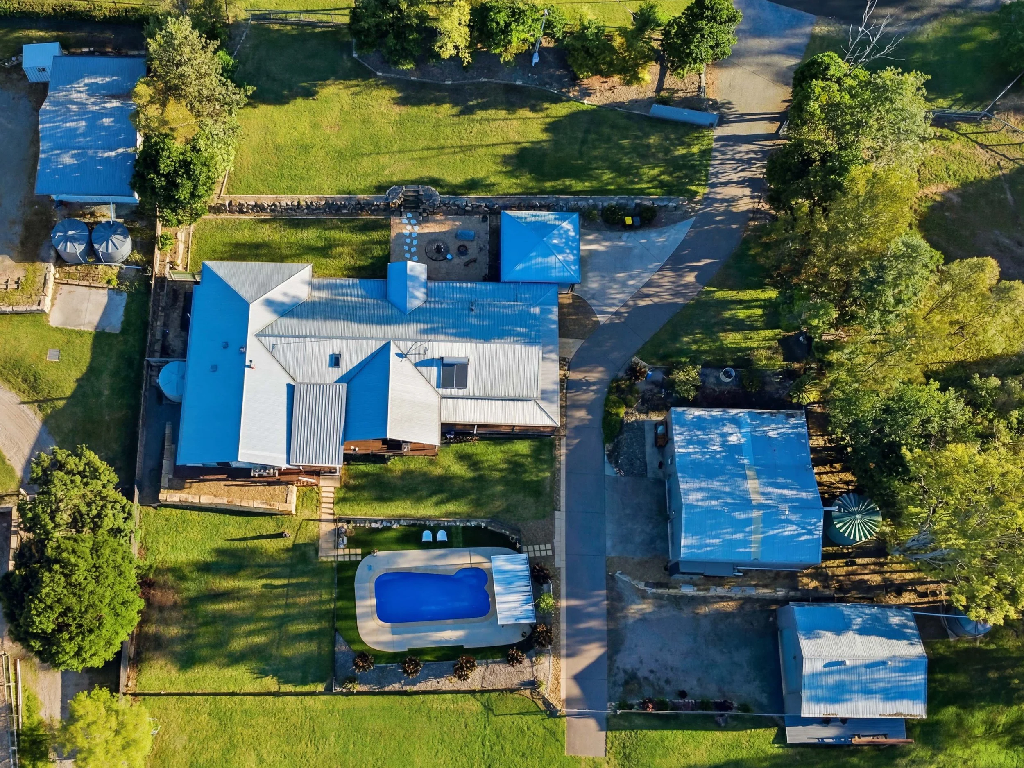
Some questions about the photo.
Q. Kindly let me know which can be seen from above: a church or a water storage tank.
water storage tank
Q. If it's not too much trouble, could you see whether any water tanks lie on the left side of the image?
Yes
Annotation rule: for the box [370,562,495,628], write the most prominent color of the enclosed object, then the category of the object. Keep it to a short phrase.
blue swimming pool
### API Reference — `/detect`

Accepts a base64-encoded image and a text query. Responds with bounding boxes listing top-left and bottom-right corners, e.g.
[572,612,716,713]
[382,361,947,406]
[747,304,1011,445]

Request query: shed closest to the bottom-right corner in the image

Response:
[778,602,975,744]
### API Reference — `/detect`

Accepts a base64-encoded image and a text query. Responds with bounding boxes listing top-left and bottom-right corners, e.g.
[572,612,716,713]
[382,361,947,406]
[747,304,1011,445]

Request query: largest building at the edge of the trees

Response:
[173,260,561,483]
